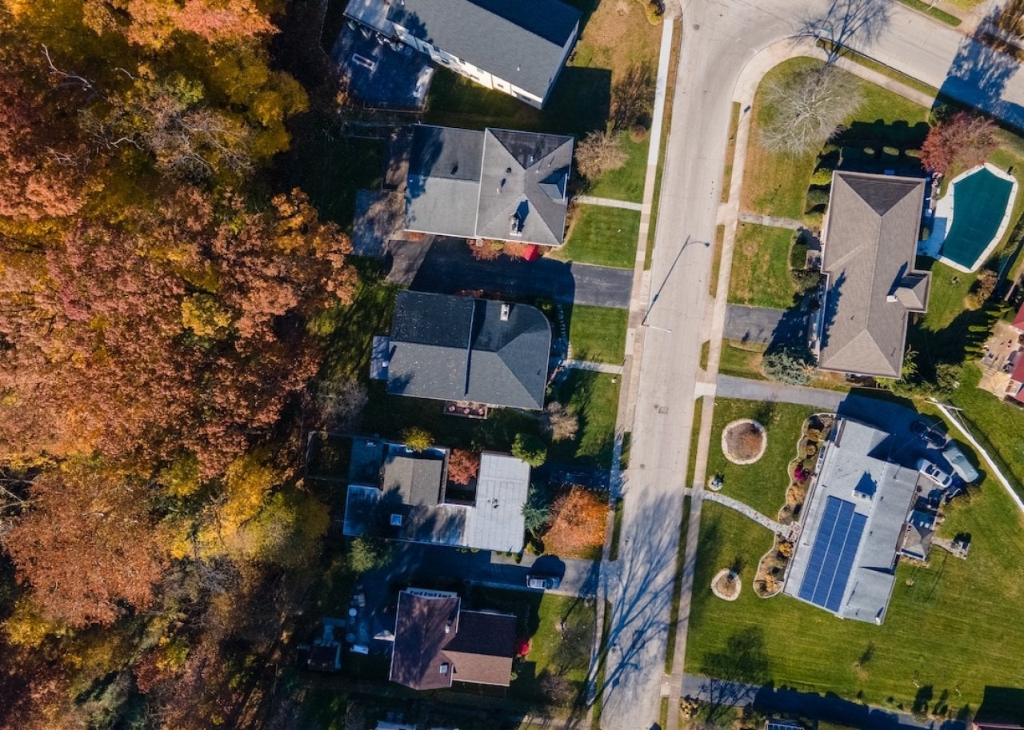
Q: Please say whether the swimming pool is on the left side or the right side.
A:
right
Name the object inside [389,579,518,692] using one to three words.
house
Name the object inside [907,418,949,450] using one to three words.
car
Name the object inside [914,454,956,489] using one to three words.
car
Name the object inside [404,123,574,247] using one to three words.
house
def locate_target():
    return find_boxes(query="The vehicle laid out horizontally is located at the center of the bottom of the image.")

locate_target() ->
[526,573,563,592]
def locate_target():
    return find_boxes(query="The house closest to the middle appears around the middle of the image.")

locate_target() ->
[369,289,552,411]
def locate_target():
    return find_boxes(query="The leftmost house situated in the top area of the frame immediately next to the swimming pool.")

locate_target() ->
[813,167,935,380]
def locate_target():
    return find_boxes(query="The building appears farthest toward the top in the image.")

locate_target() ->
[342,0,584,107]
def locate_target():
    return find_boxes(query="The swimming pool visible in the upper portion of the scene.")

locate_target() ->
[918,161,1019,276]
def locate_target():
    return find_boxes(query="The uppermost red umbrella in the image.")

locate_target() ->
[524,247,539,262]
